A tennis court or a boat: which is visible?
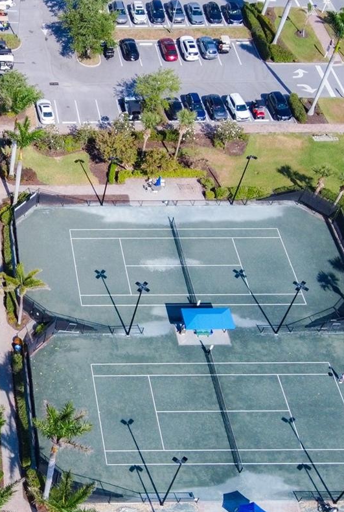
tennis court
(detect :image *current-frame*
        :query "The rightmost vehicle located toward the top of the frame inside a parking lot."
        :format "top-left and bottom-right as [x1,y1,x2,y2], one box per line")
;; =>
[268,89,292,117]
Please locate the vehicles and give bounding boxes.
[0,38,7,48]
[111,0,130,22]
[163,89,184,117]
[103,39,116,58]
[181,37,200,59]
[228,90,251,118]
[168,0,187,21]
[268,89,292,117]
[217,30,233,50]
[186,1,204,22]
[221,0,241,22]
[130,0,148,22]
[199,35,219,57]
[0,48,13,63]
[251,97,265,116]
[207,90,231,118]
[149,0,167,21]
[0,14,10,31]
[120,87,142,118]
[202,1,221,21]
[0,0,14,8]
[186,89,207,117]
[0,55,14,71]
[160,37,179,59]
[121,36,140,59]
[36,97,54,121]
